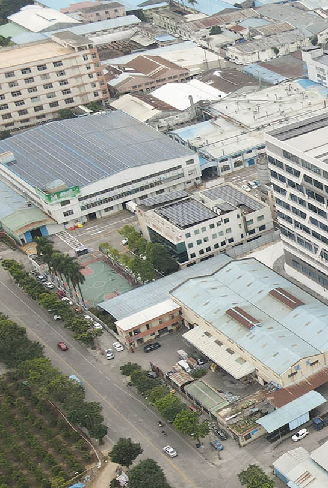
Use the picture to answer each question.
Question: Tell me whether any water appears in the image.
No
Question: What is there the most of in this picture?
buildings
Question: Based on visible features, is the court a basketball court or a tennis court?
basketball court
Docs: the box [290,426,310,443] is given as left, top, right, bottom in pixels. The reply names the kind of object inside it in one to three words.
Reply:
car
